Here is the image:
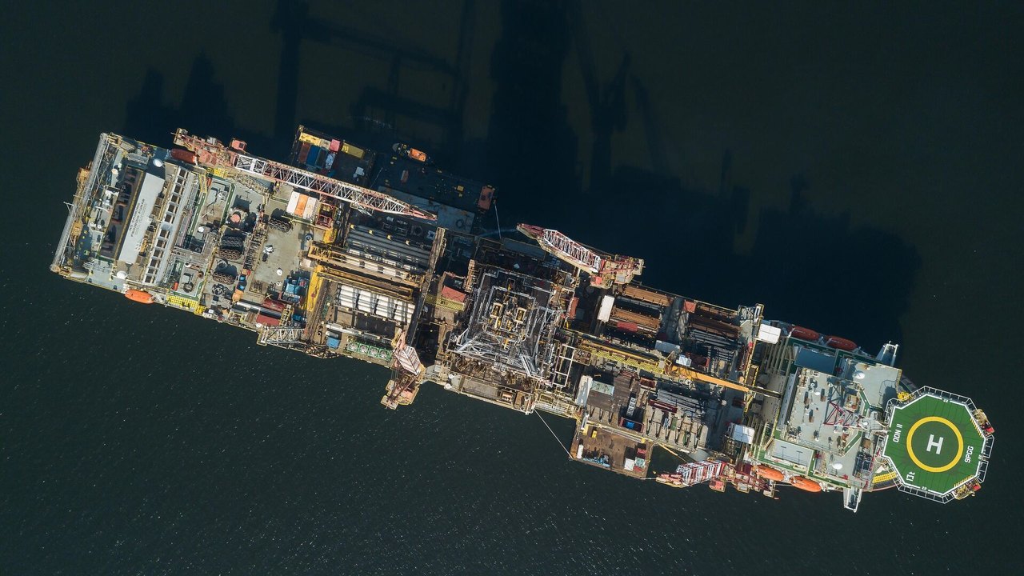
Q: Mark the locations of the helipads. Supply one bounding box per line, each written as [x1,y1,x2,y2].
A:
[874,386,995,503]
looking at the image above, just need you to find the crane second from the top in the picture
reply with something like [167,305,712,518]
[510,223,649,299]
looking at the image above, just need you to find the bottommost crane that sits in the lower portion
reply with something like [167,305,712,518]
[617,431,779,499]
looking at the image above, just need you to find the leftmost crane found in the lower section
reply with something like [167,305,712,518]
[382,318,433,407]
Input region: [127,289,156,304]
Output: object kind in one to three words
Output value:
boat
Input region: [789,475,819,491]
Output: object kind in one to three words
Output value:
boat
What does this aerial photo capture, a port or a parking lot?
port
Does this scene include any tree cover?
No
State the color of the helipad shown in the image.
green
